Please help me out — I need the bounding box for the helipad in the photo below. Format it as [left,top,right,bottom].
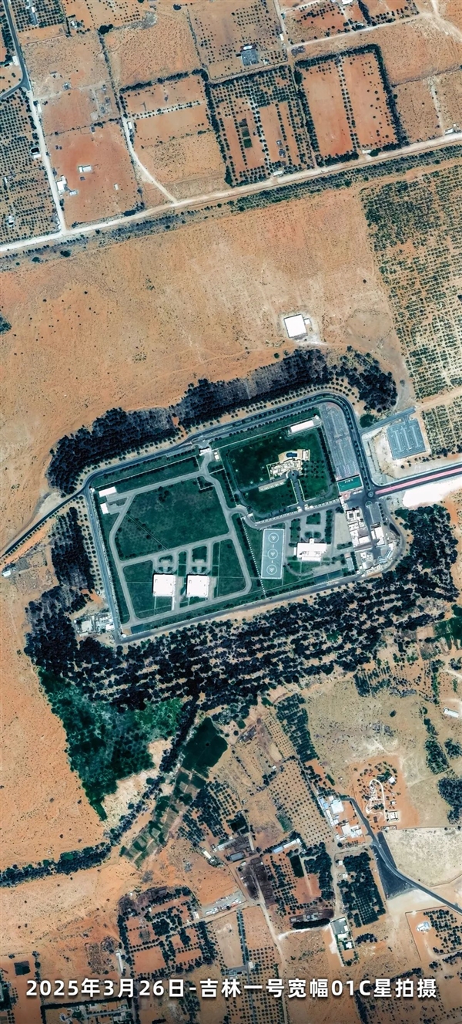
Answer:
[262,529,284,578]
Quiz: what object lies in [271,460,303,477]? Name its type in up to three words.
building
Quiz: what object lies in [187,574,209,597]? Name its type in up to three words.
building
